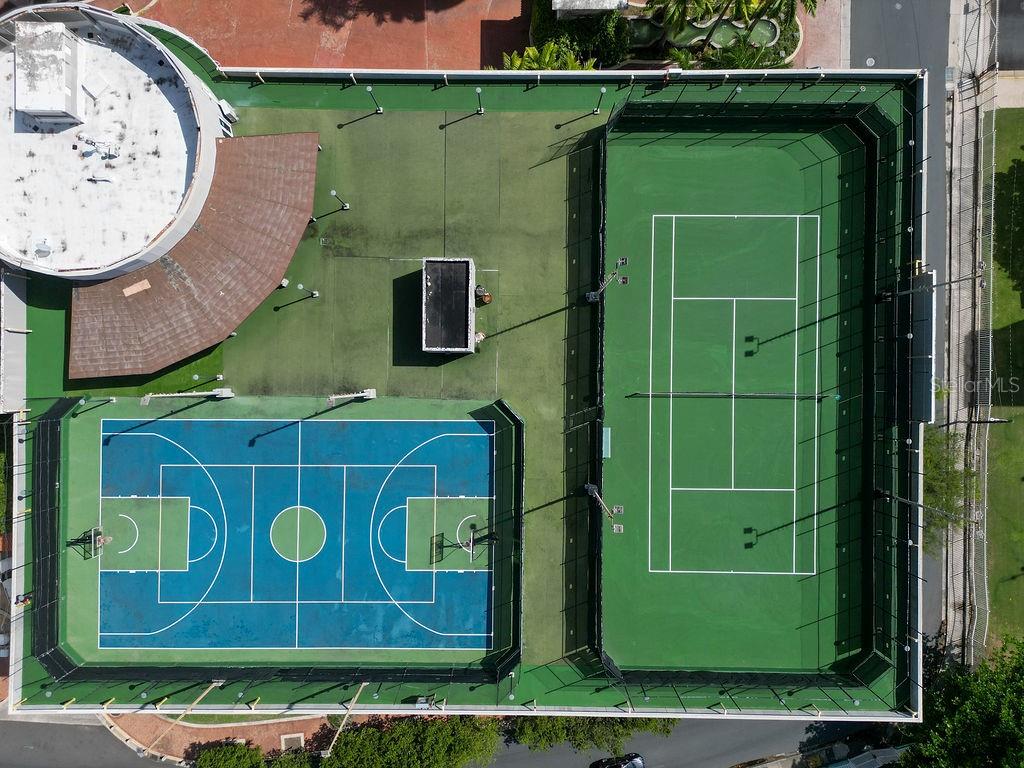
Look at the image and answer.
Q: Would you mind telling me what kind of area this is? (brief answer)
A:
sports ground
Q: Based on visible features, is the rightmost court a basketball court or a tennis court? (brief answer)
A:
tennis court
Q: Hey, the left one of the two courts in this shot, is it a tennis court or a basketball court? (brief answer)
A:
basketball court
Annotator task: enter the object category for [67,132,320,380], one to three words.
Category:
building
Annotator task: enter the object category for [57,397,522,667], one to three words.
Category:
basketball court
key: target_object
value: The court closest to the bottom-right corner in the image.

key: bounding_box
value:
[599,119,873,669]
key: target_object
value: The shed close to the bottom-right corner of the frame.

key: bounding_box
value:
[806,728,904,768]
